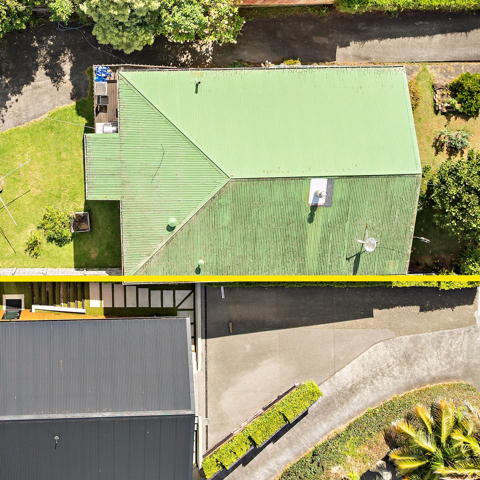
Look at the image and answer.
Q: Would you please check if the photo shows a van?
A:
No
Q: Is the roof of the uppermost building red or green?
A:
green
